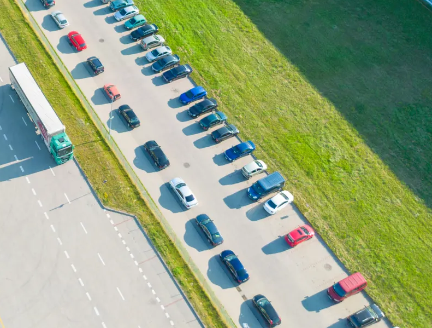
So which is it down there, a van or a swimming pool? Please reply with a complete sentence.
There is a van in the scene.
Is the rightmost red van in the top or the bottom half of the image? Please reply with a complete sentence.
It is in the bottom half that the rightmost red van appears.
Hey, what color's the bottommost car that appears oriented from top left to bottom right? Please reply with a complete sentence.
The bottommost car that appears oriented from top left to bottom right is blue.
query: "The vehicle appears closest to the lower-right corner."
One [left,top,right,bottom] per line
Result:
[346,304,384,328]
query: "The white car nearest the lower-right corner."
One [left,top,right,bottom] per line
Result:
[260,192,295,215]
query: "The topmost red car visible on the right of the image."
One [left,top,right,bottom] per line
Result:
[284,225,315,248]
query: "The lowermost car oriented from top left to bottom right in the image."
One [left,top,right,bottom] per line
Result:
[251,294,283,328]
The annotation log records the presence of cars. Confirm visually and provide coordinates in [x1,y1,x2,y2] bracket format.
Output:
[129,25,159,42]
[41,0,57,11]
[138,35,165,52]
[260,192,295,215]
[114,6,139,22]
[50,11,70,31]
[150,56,181,74]
[346,304,384,328]
[251,294,283,328]
[116,105,142,131]
[170,178,197,210]
[237,159,269,181]
[67,33,87,52]
[110,0,133,13]
[85,56,107,78]
[284,225,315,248]
[187,99,219,120]
[145,46,172,63]
[144,141,171,170]
[162,65,192,83]
[102,84,122,104]
[197,112,228,131]
[194,215,225,249]
[223,141,257,163]
[208,124,240,144]
[124,15,146,30]
[219,250,252,286]
[179,87,207,106]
